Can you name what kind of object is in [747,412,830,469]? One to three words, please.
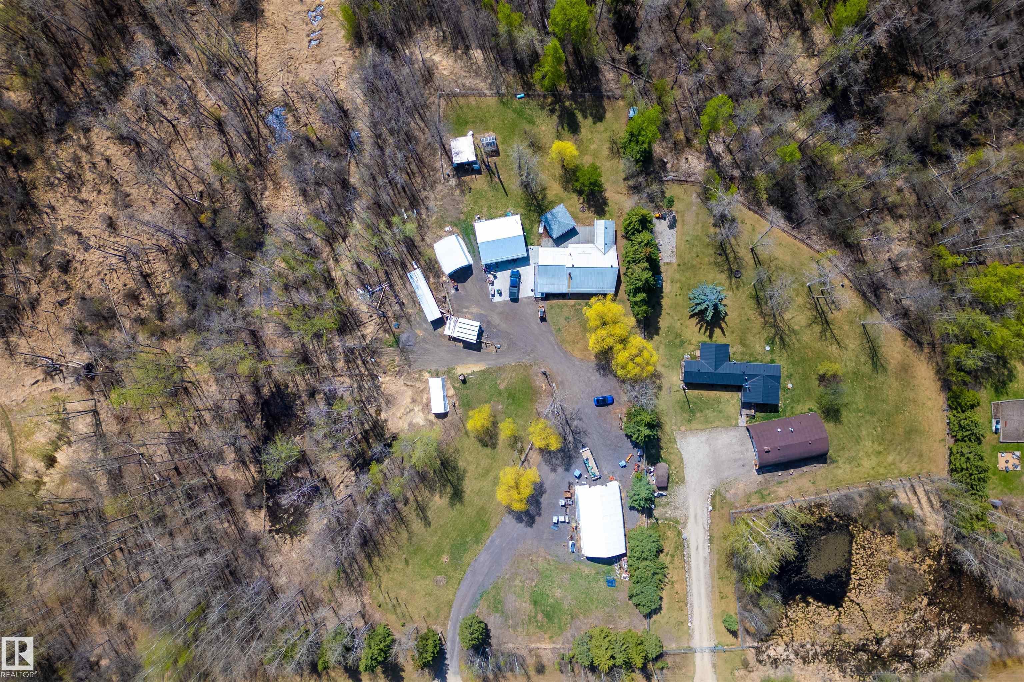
shed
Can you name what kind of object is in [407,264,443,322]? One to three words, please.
trailer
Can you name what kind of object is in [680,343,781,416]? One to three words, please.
house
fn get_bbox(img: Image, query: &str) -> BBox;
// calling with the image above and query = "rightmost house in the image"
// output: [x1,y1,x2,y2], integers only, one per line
[983,399,1024,442]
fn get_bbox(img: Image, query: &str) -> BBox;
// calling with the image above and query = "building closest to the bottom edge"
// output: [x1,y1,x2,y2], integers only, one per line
[573,485,626,559]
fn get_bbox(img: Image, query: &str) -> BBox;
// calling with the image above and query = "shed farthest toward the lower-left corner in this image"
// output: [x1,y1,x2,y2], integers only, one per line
[428,379,447,412]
